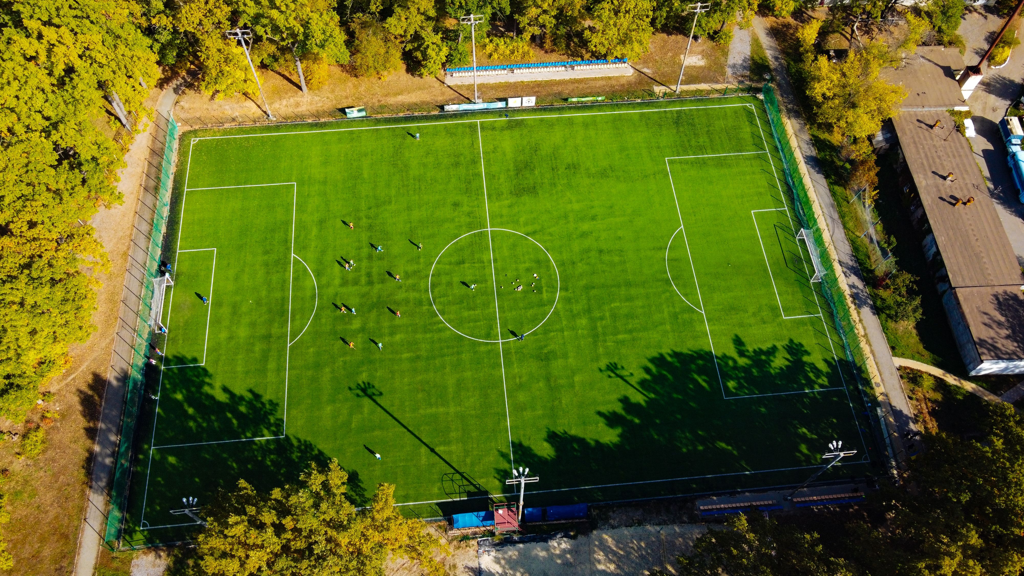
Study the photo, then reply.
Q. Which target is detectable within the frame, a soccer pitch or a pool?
soccer pitch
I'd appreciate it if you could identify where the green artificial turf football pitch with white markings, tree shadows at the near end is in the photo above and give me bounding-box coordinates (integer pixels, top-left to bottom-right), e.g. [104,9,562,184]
[123,95,889,548]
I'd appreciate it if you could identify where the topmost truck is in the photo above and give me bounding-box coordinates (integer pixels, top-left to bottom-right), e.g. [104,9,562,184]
[997,116,1024,160]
